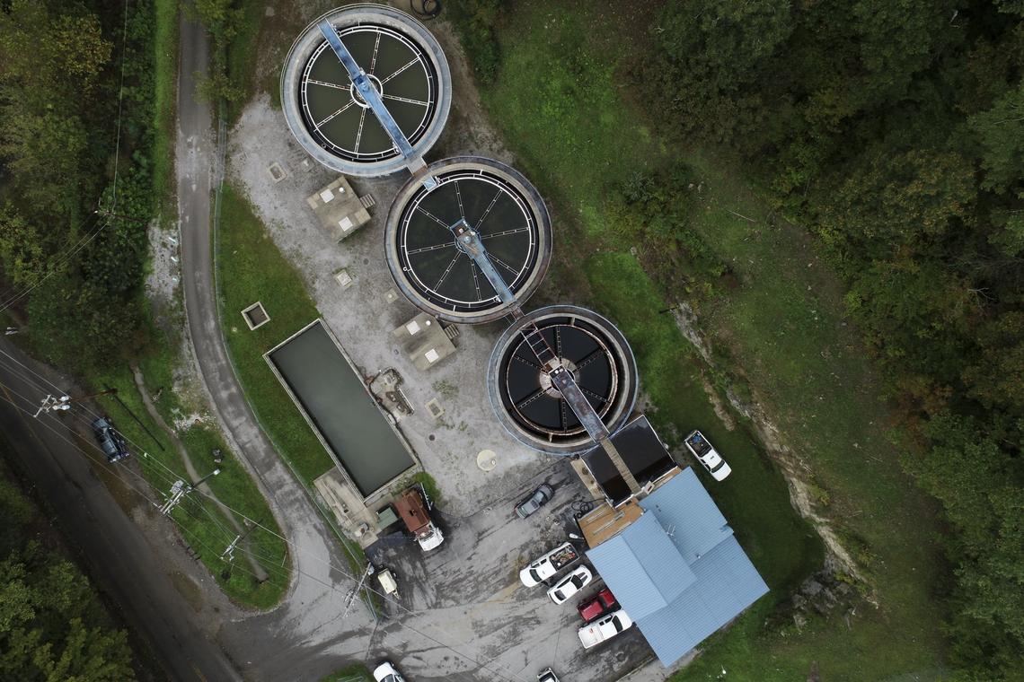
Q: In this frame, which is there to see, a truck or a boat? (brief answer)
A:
truck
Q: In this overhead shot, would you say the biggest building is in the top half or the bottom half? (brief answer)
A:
bottom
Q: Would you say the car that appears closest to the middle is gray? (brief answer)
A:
Yes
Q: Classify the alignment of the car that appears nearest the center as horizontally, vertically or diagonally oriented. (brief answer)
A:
diagonally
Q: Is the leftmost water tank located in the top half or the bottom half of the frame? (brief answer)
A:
top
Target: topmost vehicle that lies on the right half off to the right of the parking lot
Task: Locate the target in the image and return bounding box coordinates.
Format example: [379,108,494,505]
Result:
[679,425,733,483]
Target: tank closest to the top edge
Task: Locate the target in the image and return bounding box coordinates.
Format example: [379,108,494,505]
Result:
[278,0,453,177]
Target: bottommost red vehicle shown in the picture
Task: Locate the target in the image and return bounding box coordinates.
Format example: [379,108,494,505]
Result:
[577,584,619,623]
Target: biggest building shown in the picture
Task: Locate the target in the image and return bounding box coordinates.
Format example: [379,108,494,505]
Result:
[584,466,770,668]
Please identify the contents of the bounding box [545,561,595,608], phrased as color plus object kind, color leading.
white car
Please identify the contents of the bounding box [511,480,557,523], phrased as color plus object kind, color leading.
gray car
